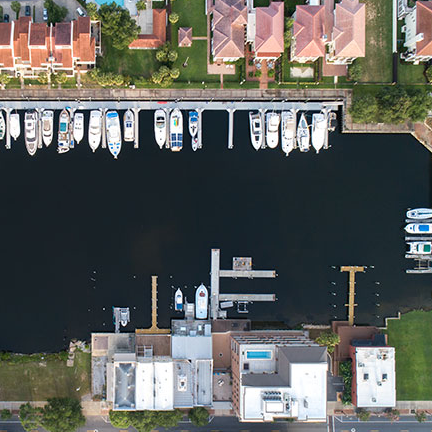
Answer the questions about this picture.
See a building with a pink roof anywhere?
Yes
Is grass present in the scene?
Yes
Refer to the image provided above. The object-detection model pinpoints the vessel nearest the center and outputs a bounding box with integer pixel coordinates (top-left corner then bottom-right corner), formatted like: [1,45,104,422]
[232,257,252,270]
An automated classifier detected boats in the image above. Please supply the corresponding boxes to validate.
[72,113,85,145]
[0,110,6,141]
[247,112,262,151]
[57,108,70,148]
[191,136,198,151]
[187,111,199,138]
[104,111,122,159]
[404,222,432,235]
[24,111,38,156]
[296,112,315,153]
[265,112,280,149]
[87,111,102,152]
[123,109,135,143]
[153,110,167,150]
[310,113,329,154]
[280,112,296,156]
[41,111,54,148]
[405,208,432,219]
[9,114,21,139]
[405,241,432,254]
[169,108,183,152]
[55,148,70,154]
[174,287,184,311]
[193,282,209,319]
